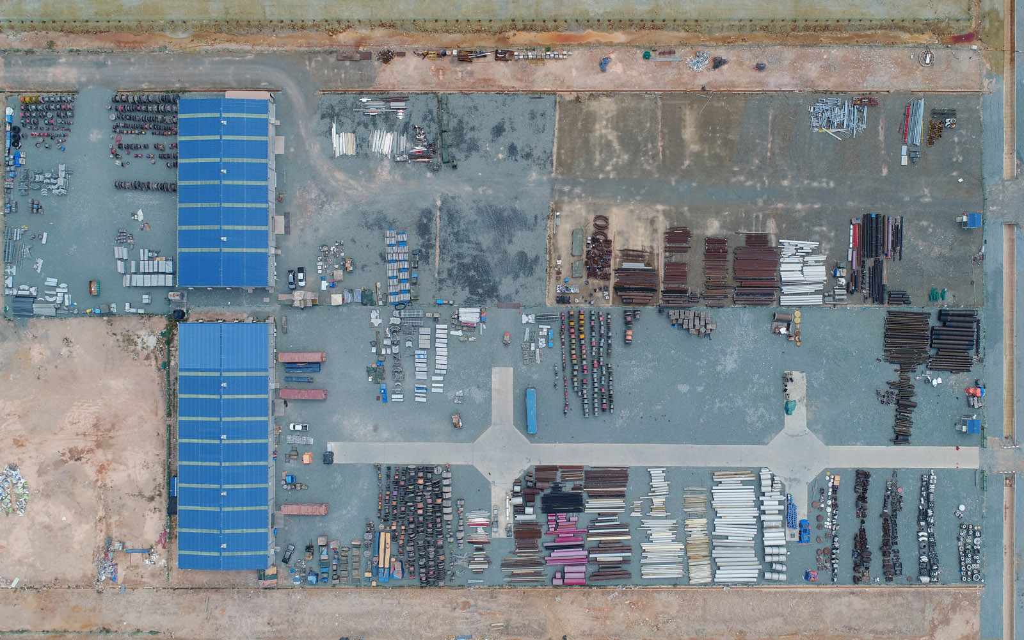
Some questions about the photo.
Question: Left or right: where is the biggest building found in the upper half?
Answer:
left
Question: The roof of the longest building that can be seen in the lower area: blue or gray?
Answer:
blue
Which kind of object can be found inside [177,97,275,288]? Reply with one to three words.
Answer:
building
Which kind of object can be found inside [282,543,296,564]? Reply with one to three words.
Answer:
vehicle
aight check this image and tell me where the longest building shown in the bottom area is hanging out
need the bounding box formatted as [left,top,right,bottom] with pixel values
[177,322,275,572]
